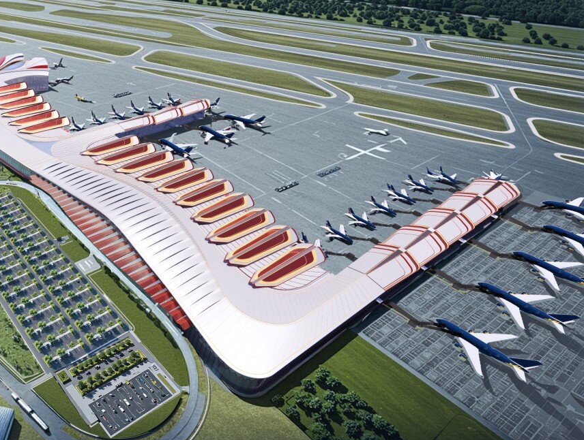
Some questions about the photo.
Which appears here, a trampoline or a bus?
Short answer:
bus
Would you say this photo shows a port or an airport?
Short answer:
airport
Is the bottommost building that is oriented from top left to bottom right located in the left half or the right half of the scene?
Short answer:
left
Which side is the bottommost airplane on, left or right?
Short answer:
right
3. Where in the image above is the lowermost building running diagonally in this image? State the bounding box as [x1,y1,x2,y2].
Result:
[66,385,99,428]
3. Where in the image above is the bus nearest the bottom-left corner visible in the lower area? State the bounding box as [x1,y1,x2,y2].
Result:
[14,395,51,433]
